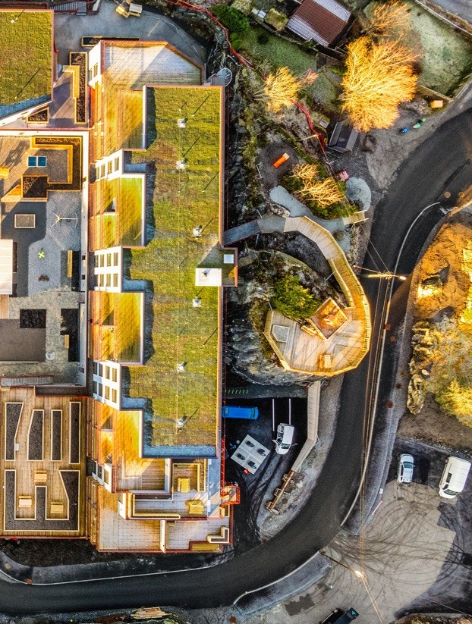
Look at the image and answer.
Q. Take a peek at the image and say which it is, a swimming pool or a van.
van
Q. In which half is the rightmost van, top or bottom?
bottom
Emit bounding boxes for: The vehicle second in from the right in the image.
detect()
[395,453,415,484]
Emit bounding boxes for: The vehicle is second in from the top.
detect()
[269,422,300,456]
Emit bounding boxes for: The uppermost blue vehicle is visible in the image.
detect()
[221,403,257,420]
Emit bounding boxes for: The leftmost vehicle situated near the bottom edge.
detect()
[315,603,358,624]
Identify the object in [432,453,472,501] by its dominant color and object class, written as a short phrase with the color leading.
white van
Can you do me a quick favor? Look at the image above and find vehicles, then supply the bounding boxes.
[315,603,358,624]
[221,403,257,420]
[269,422,300,456]
[432,453,472,501]
[395,453,415,484]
